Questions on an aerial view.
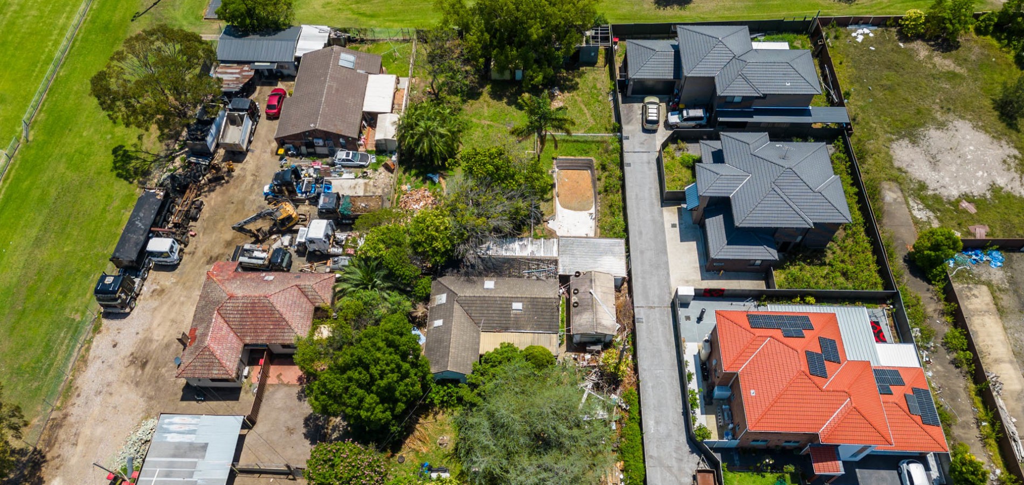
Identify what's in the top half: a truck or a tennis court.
truck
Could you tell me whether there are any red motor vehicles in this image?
Yes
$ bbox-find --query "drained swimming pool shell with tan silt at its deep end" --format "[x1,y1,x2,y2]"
[549,158,602,246]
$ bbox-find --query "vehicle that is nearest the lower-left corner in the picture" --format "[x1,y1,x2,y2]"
[90,254,152,316]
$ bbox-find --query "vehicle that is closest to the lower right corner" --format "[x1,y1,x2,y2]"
[901,453,933,485]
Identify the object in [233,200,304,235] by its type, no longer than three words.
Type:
work vehicle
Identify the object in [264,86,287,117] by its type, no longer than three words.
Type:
car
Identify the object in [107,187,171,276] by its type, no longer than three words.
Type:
trailer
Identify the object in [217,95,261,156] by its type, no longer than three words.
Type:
truck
